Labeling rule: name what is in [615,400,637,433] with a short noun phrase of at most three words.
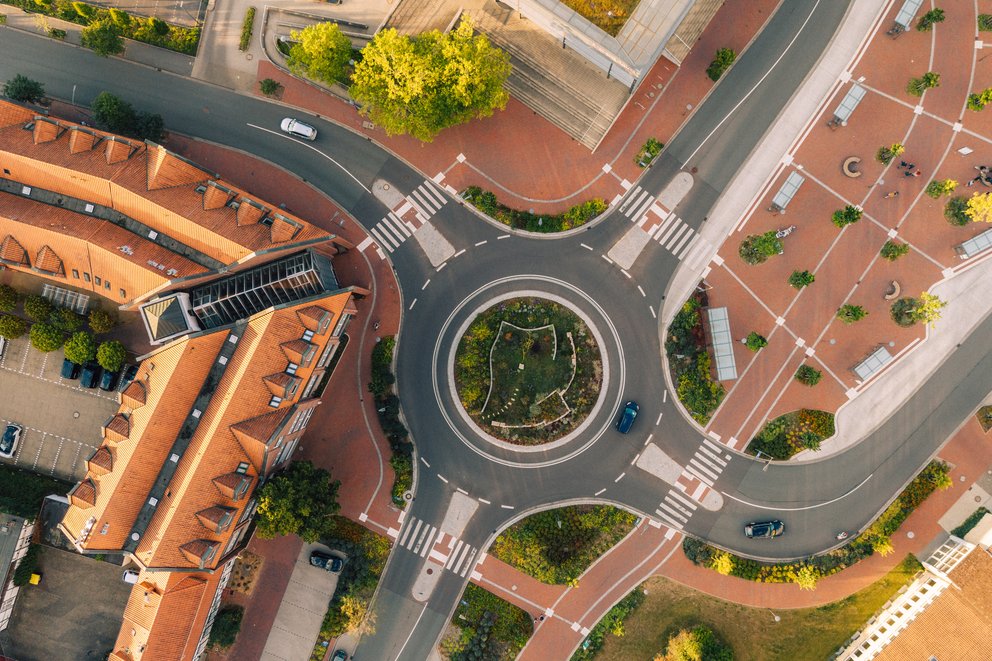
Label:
car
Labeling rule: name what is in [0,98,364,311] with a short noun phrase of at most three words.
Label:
house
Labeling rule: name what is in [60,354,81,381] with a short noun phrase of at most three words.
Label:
car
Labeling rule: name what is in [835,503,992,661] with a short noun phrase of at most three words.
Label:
house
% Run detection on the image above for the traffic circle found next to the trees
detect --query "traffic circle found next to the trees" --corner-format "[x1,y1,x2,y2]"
[370,134,758,612]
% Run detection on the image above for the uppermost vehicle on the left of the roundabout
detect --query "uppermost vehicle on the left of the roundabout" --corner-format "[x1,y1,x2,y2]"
[280,117,320,142]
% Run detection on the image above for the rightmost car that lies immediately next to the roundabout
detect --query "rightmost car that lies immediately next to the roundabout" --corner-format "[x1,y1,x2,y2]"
[744,519,783,538]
